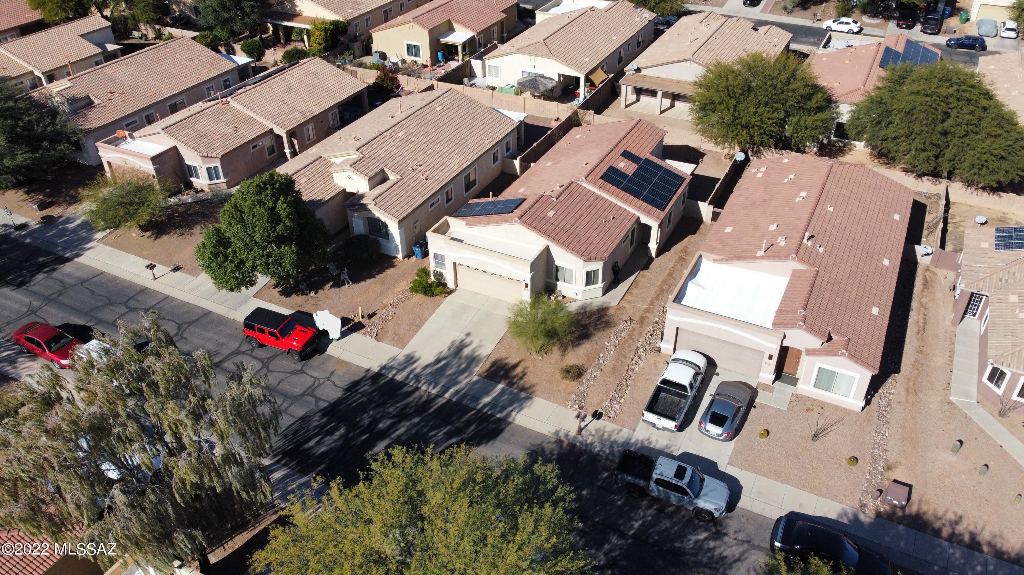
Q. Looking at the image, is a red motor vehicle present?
Yes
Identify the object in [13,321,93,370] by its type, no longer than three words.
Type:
car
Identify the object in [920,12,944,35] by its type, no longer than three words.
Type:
truck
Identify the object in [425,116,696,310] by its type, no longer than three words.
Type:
house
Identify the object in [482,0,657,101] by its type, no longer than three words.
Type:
house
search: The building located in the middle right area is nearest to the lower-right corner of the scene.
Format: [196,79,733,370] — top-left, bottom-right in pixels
[945,226,1024,421]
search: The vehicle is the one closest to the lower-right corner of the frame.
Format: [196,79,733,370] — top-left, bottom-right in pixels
[766,515,890,575]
